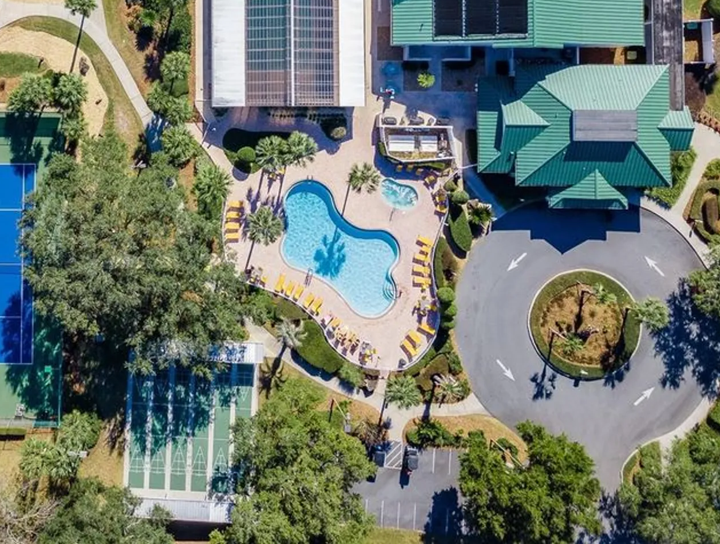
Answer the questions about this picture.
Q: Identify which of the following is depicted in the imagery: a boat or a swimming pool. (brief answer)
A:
swimming pool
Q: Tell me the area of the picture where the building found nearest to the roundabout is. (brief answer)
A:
top right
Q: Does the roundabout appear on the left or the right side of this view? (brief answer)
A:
right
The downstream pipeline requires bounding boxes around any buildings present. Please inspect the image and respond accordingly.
[212,0,366,109]
[389,0,644,49]
[471,64,694,208]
